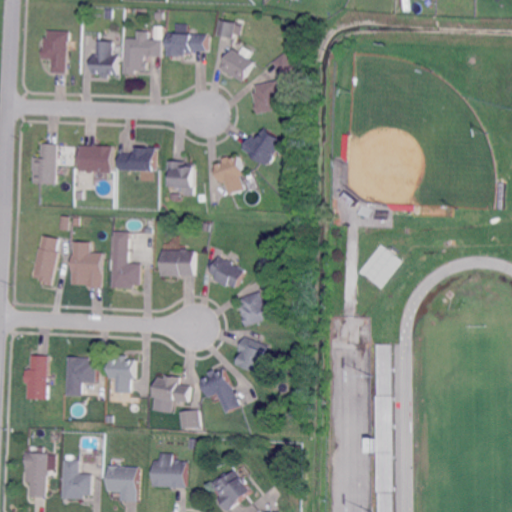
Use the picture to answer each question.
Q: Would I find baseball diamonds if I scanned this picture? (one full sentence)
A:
Yes, a baseball diamond is visible in the scene.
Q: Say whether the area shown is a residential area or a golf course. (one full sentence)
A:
The area seen from above is a residential area.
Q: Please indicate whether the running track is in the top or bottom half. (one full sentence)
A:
The running track is in the bottom half of the image.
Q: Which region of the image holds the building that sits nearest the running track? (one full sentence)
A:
The building that sits nearest the running track appears toward the right of the photo.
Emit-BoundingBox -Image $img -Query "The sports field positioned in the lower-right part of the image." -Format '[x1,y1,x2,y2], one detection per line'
[413,269,512,512]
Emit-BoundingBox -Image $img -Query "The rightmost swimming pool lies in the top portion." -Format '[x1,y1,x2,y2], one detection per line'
[242,190,260,206]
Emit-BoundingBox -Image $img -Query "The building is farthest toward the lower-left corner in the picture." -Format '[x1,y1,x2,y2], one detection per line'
[24,454,50,500]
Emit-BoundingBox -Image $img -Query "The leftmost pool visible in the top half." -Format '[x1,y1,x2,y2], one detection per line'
[94,180,110,196]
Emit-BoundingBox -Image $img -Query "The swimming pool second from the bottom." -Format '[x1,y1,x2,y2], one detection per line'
[69,402,86,419]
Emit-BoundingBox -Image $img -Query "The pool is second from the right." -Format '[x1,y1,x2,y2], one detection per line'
[125,218,142,232]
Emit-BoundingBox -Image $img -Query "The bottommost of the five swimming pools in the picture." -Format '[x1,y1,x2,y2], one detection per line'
[82,436,98,450]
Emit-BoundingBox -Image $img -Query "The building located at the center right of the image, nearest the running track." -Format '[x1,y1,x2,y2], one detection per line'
[360,244,405,290]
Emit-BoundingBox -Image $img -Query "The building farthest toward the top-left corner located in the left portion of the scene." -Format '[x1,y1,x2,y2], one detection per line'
[40,30,70,73]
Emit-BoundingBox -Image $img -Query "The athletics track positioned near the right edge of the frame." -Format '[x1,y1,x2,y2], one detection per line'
[400,256,512,512]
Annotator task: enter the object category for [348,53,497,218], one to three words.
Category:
baseball field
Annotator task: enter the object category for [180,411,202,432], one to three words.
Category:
building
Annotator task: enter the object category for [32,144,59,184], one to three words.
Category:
house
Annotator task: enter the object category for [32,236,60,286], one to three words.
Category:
house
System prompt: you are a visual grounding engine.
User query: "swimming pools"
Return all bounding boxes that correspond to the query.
[125,218,142,232]
[82,436,98,450]
[242,190,260,206]
[69,402,86,419]
[94,180,110,196]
